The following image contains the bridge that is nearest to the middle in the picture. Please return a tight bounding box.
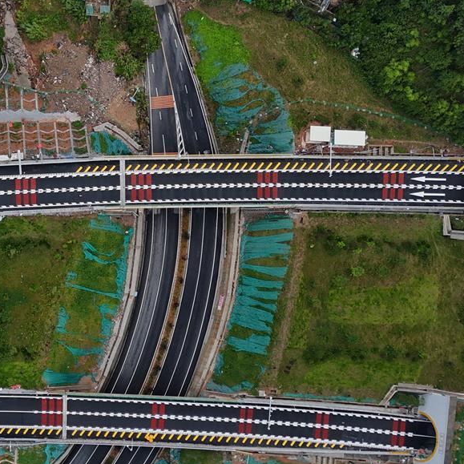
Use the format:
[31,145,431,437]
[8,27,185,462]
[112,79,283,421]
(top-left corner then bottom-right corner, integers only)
[86,152,287,210]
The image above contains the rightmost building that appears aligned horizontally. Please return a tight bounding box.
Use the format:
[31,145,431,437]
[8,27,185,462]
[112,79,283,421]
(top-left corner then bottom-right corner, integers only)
[329,129,366,147]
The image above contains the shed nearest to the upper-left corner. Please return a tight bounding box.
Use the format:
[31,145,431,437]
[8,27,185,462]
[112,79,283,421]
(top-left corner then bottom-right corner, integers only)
[86,0,111,15]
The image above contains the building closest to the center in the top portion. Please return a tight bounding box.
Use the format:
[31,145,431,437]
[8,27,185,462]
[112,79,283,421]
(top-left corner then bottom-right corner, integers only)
[305,125,331,143]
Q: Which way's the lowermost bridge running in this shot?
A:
from left to right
